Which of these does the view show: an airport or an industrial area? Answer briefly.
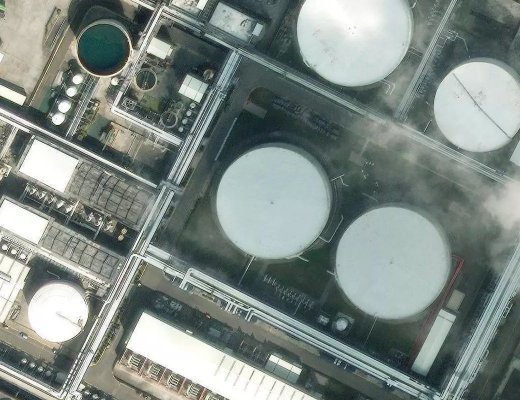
industrial area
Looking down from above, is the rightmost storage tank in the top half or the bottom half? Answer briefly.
top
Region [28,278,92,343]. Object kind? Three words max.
storage tank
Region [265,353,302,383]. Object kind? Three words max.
shed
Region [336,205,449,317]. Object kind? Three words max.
storage tank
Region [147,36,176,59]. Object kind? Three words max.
building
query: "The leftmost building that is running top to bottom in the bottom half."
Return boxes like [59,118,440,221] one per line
[0,250,32,323]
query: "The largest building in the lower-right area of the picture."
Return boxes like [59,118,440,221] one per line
[411,309,457,375]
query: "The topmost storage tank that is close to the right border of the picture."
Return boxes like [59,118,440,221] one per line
[433,59,520,152]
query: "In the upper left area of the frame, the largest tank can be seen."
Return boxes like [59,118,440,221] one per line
[76,12,140,77]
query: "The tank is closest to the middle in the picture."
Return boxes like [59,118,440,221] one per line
[217,144,330,257]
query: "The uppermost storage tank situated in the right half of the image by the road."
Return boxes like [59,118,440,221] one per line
[297,0,412,86]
